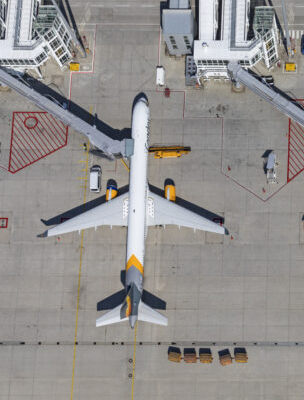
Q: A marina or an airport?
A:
airport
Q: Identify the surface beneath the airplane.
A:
apron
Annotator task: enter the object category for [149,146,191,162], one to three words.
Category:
work vehicle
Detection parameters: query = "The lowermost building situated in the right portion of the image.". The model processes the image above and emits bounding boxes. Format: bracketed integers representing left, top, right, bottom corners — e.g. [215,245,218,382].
[194,35,269,95]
